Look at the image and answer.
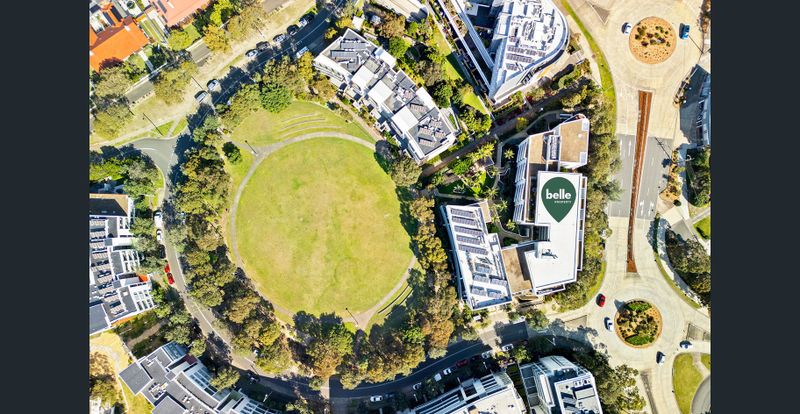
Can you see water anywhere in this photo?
No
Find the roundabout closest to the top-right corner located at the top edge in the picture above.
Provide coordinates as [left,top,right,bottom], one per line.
[629,16,676,63]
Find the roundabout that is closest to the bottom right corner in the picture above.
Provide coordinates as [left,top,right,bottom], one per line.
[616,302,661,348]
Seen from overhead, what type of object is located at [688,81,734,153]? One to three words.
building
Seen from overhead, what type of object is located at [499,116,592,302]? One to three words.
building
